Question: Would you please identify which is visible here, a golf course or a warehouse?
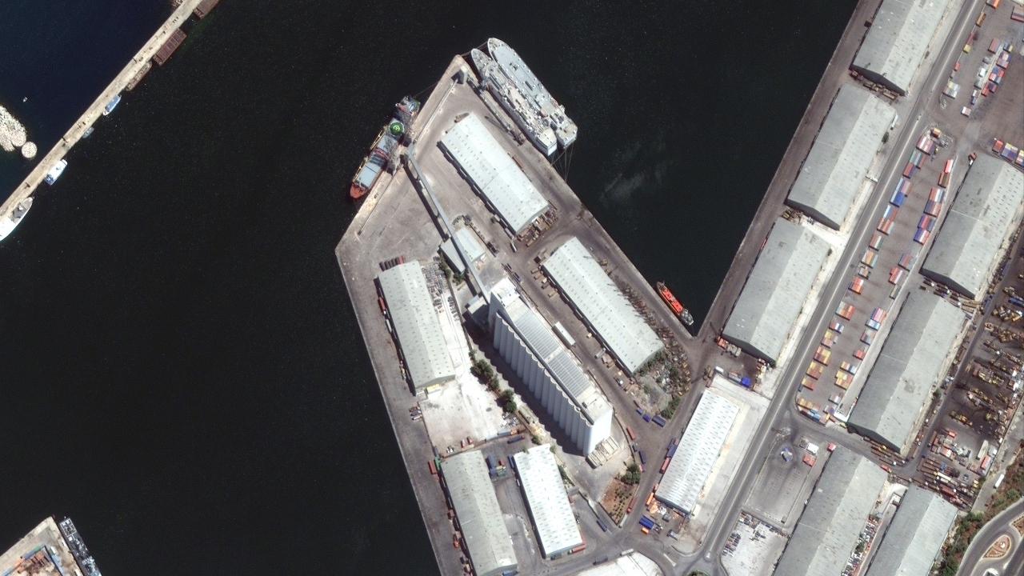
warehouse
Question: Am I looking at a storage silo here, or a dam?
storage silo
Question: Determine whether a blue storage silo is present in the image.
No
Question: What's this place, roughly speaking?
port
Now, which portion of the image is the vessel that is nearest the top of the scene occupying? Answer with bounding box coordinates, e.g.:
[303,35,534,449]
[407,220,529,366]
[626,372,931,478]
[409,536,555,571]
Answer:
[194,0,222,21]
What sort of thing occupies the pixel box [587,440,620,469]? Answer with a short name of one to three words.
shed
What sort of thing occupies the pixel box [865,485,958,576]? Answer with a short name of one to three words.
building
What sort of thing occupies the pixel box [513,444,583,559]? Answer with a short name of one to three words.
building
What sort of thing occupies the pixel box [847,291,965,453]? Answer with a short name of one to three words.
warehouse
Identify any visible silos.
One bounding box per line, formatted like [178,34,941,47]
[489,277,617,458]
